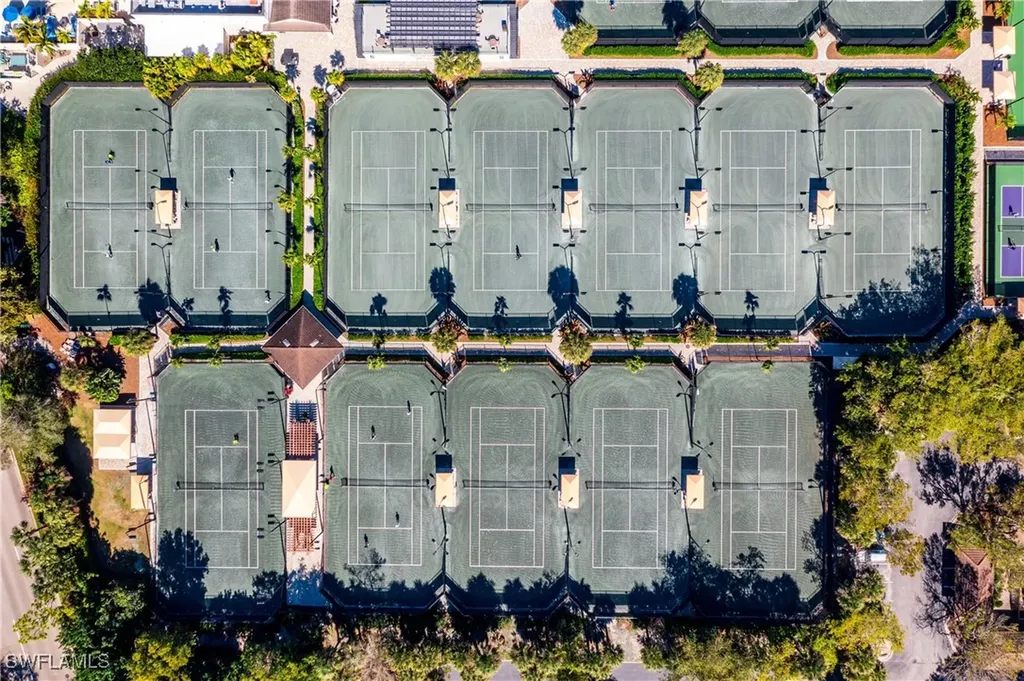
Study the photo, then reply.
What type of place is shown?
sports ground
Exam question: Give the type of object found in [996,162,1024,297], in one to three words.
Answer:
sports court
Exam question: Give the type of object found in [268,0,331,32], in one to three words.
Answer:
house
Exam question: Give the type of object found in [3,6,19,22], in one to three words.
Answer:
umbrella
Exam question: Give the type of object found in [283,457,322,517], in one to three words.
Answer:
building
